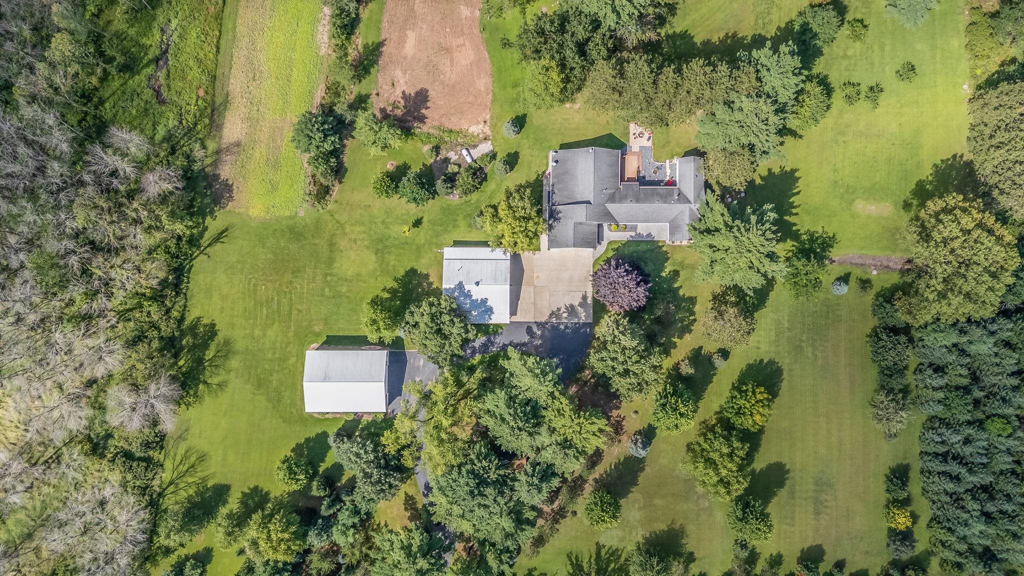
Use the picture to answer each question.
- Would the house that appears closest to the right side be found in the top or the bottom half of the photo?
top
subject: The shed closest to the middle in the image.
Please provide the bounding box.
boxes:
[439,248,511,323]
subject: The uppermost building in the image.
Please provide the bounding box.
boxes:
[547,147,704,248]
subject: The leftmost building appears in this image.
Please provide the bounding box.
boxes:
[302,349,391,412]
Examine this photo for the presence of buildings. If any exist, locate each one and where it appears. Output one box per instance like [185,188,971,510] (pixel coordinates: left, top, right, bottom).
[547,147,704,248]
[439,248,511,323]
[302,349,391,412]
